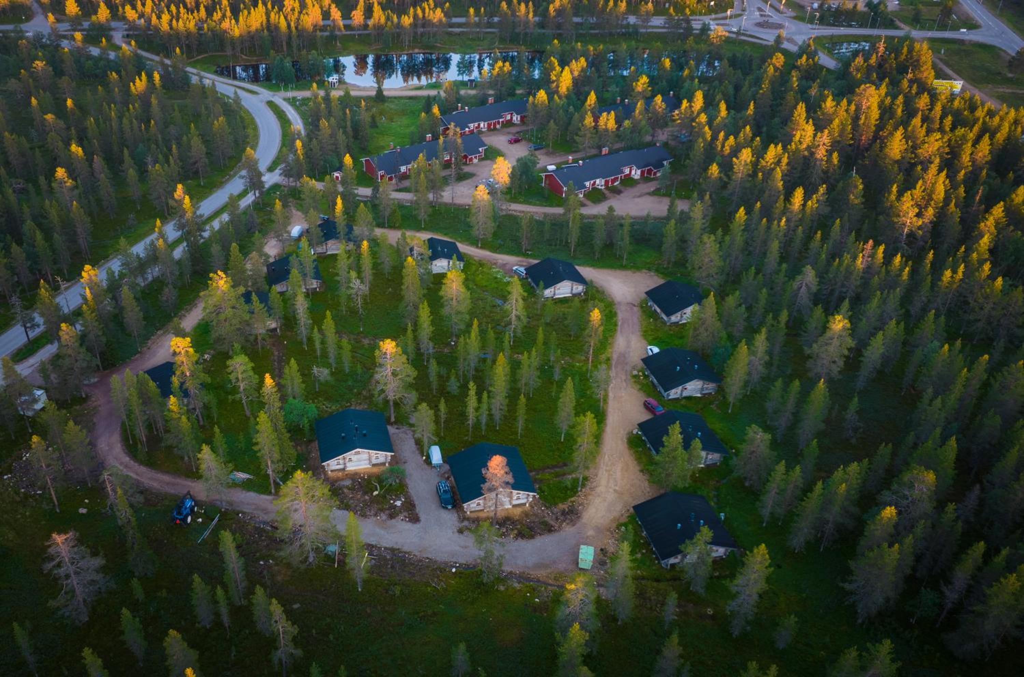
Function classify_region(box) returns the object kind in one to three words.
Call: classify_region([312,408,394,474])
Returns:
building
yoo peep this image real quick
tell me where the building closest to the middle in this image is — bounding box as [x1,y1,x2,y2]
[525,259,588,299]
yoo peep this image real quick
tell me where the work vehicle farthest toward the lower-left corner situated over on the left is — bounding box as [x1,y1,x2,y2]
[168,489,202,524]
